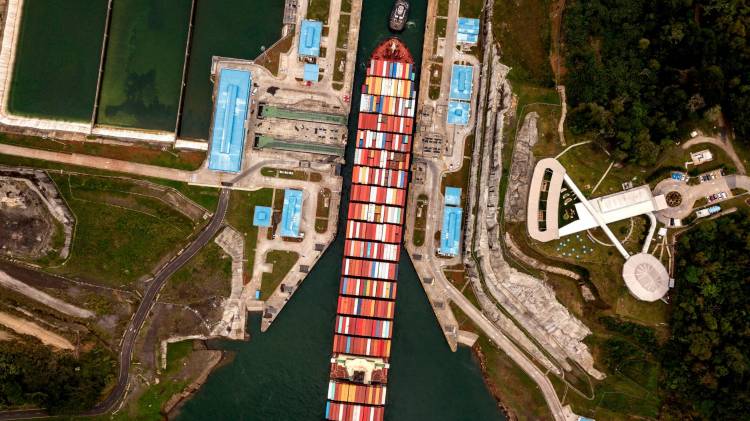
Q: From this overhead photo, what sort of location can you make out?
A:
port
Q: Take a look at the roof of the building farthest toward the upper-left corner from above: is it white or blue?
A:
blue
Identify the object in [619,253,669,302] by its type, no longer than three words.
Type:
building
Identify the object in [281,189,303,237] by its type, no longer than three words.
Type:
building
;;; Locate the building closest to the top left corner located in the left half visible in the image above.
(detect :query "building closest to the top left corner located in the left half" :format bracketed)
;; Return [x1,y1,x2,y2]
[208,69,253,173]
